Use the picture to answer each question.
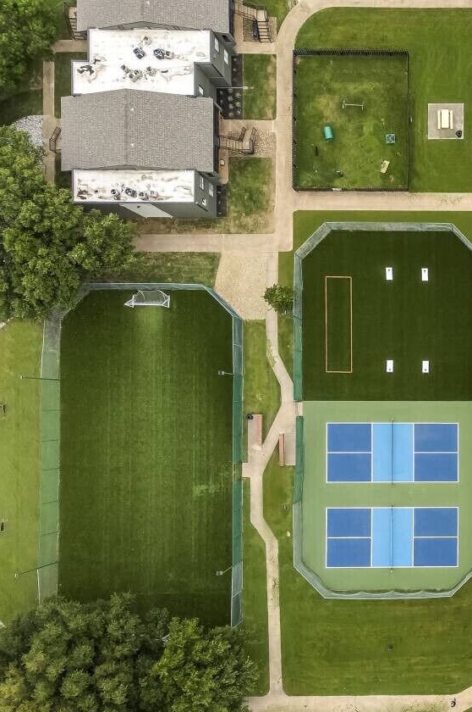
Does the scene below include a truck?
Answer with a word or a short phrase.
No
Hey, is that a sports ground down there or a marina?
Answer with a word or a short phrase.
sports ground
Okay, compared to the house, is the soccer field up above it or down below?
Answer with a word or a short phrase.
below it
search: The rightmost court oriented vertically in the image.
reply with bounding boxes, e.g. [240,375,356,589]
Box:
[304,230,472,590]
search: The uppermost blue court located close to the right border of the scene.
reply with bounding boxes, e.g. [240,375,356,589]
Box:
[327,423,459,482]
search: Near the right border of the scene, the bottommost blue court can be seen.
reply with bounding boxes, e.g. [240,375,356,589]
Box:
[327,508,459,568]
